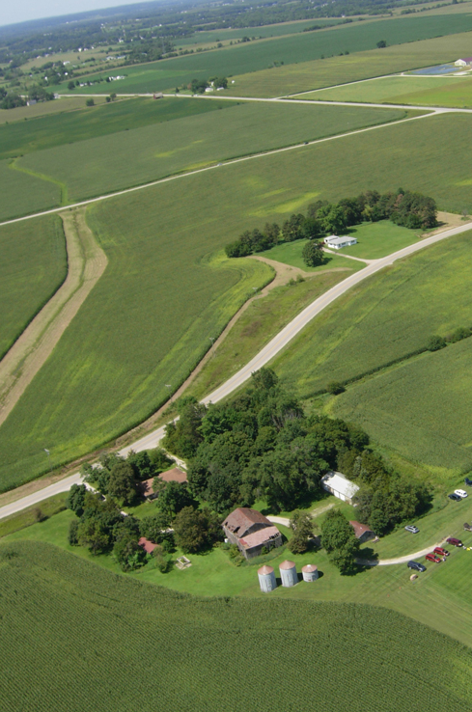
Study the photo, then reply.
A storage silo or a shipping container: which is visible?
storage silo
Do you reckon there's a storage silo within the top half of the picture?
No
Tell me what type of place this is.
farmland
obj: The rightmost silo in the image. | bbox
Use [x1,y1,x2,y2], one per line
[300,563,320,584]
